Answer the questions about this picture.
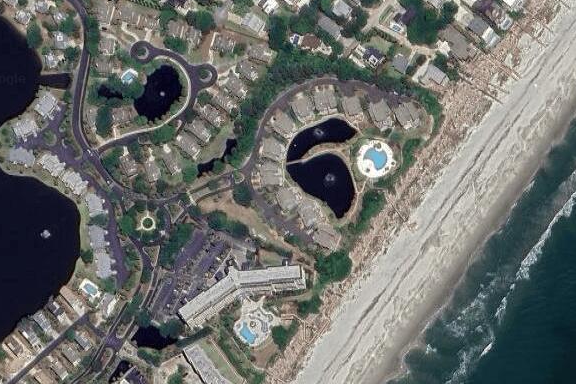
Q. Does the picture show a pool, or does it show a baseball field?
pool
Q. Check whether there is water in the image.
Yes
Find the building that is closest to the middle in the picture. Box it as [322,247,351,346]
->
[276,187,300,214]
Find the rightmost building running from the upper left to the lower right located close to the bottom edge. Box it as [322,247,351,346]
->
[182,343,220,384]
